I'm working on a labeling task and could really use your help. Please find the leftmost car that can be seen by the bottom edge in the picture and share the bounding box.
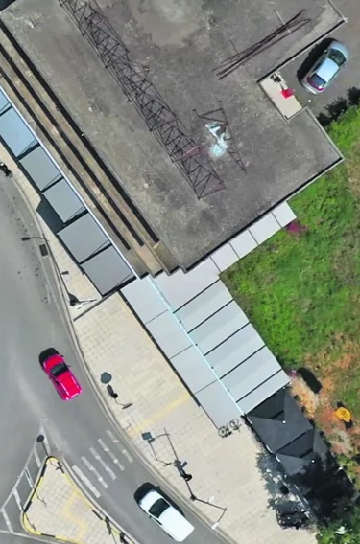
[139,490,193,543]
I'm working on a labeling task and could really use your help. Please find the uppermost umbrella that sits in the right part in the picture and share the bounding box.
[246,388,313,454]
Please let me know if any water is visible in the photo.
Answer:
No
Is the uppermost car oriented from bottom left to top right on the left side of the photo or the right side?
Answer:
right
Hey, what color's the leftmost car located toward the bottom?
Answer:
red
